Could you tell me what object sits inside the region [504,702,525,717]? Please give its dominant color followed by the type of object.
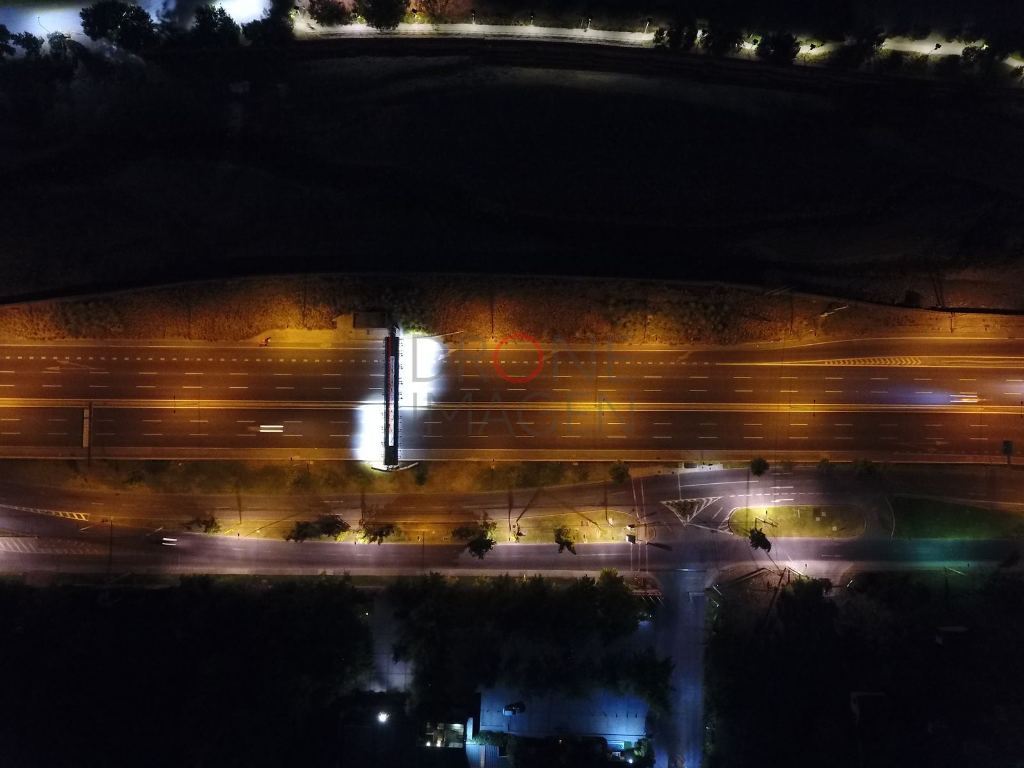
black car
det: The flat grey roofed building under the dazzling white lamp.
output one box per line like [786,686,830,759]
[340,705,424,768]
